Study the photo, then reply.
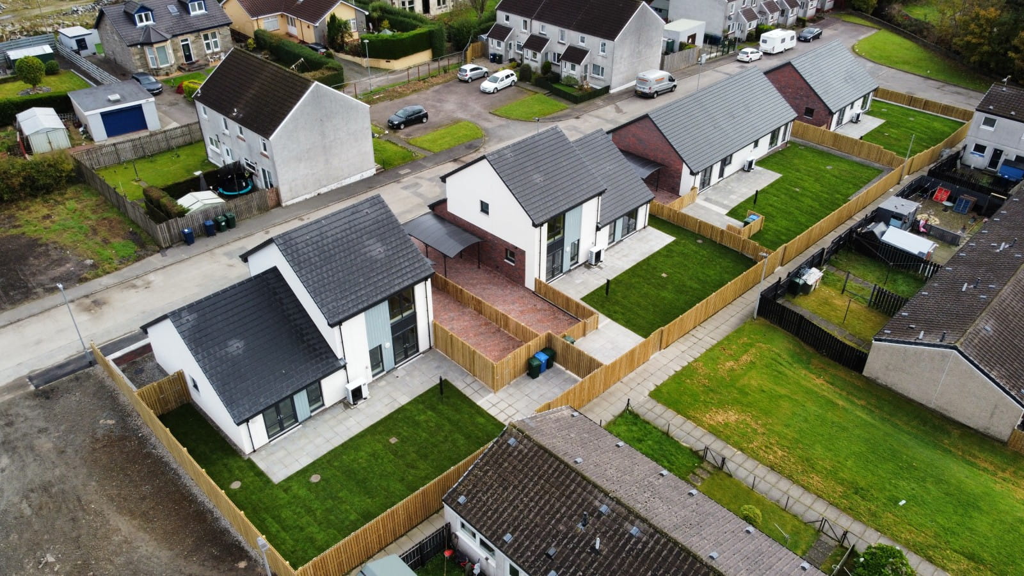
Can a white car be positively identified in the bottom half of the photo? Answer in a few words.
No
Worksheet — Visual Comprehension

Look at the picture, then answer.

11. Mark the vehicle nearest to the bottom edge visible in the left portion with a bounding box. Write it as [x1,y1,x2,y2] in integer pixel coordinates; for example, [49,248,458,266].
[390,104,429,129]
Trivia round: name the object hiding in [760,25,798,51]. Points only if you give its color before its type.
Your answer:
white camper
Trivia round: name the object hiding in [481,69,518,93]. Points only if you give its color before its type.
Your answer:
white car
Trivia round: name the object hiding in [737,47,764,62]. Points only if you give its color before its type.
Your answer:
white car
